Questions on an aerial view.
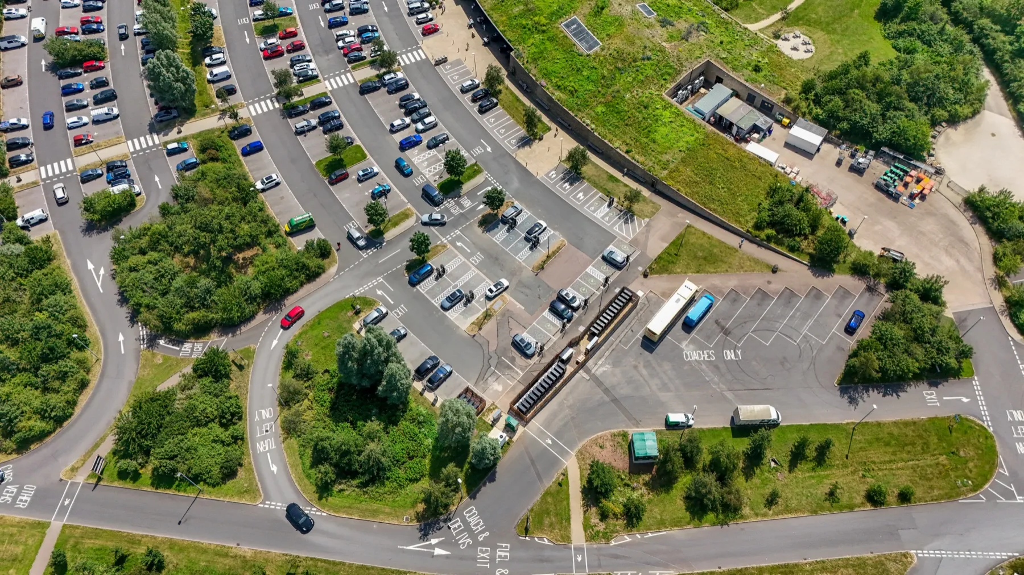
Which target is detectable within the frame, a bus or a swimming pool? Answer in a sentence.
This aerial view contains a bus.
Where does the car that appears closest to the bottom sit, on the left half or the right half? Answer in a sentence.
The car that appears closest to the bottom is on the left side of the image.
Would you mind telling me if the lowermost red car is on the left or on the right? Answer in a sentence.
The lowermost red car sits on the left side.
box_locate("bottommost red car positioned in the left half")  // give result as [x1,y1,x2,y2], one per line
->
[280,305,306,328]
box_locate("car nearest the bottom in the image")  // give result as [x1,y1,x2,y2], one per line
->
[286,502,314,534]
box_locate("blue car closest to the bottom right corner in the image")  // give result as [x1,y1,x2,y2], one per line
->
[844,310,865,334]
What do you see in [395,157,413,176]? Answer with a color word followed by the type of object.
blue car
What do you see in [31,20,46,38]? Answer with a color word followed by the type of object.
white vehicle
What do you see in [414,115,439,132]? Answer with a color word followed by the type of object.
white car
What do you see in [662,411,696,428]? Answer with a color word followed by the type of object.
white vehicle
